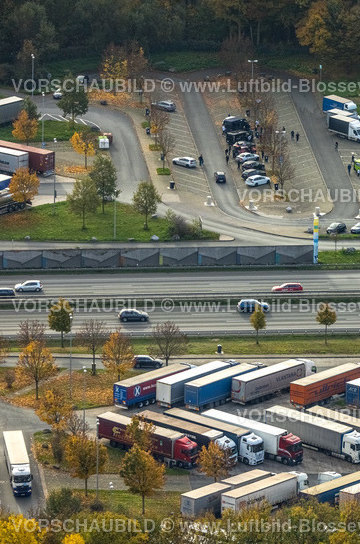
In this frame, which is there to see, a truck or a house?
truck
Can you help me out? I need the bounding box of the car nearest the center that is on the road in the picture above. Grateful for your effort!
[118,308,150,322]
